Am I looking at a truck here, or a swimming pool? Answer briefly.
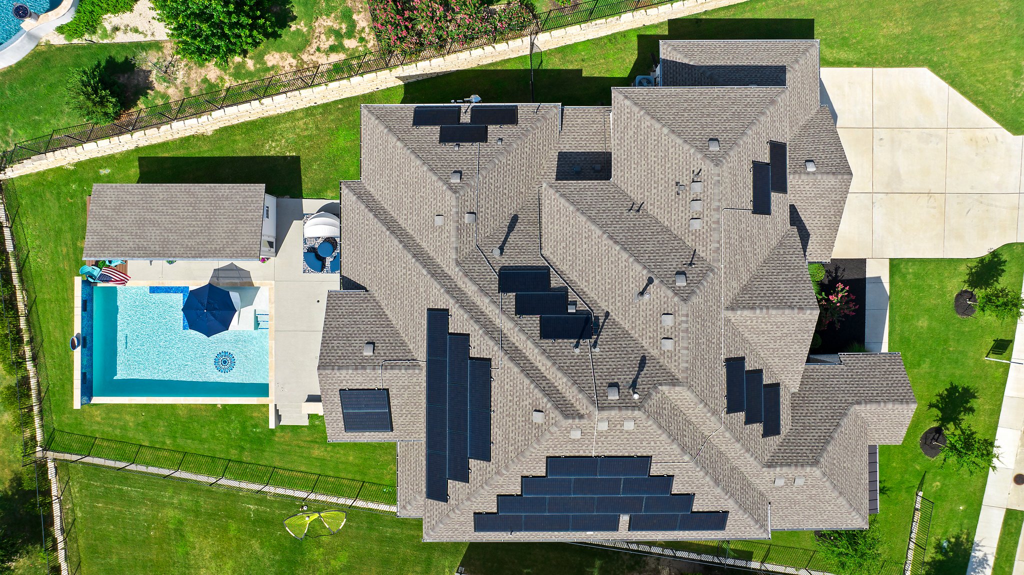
swimming pool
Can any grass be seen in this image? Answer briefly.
Yes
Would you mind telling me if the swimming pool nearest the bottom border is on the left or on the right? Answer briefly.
left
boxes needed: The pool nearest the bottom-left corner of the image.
[74,277,275,409]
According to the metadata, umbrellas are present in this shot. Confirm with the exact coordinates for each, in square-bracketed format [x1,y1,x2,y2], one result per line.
[182,283,237,337]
